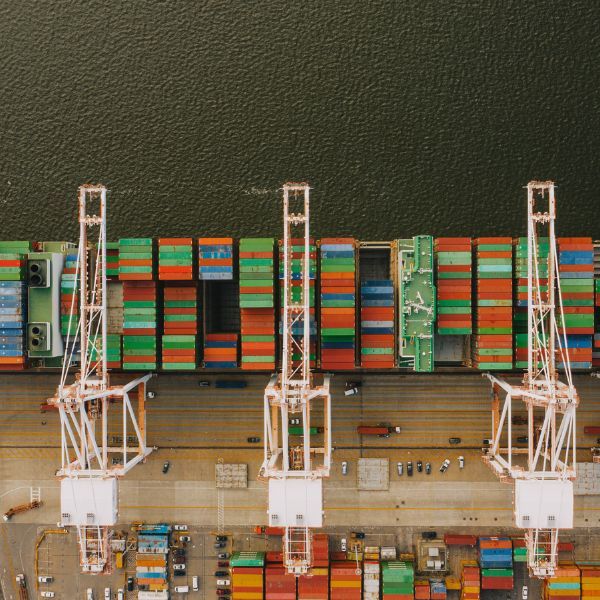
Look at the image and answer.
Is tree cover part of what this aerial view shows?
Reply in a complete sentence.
No, no tree cover is visible.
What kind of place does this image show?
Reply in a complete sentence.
What you see here is a port.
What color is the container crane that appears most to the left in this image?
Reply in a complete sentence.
From above, the container crane that appears most to the left appears white.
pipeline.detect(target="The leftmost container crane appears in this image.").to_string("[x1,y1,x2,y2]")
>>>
[49,182,162,578]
